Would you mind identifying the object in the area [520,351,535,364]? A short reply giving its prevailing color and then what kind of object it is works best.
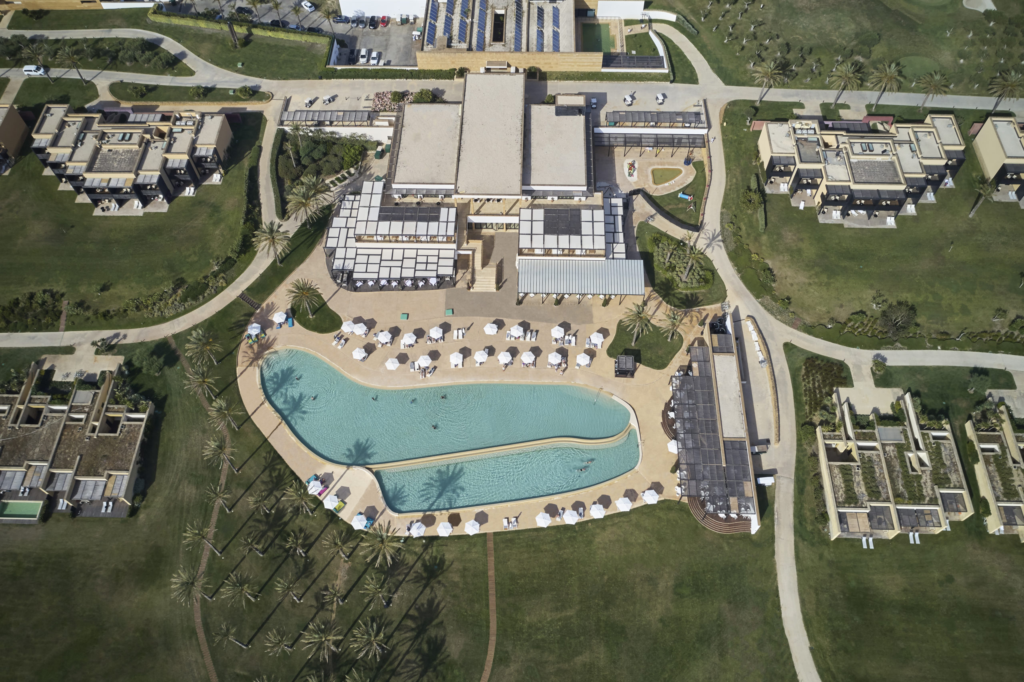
white umbrella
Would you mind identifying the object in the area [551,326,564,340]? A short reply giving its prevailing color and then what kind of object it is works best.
white umbrella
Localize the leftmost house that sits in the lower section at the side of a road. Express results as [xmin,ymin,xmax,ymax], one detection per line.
[0,362,68,495]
